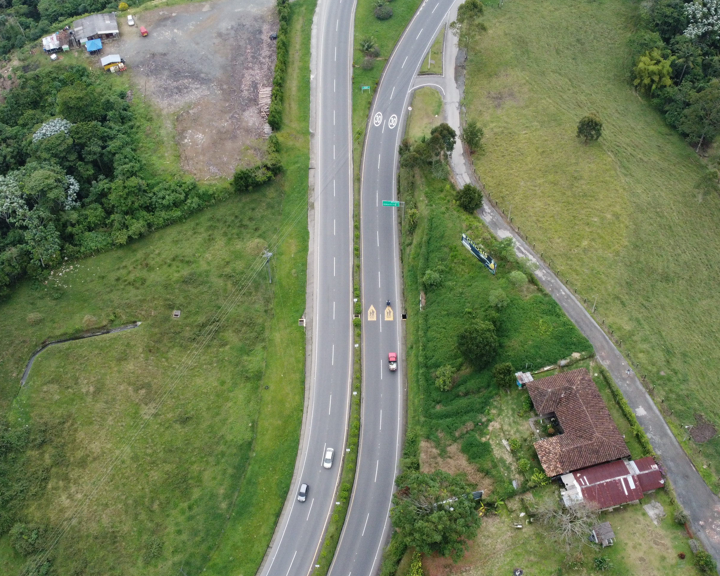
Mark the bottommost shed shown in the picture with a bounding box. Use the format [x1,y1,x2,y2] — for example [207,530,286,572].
[590,517,619,550]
